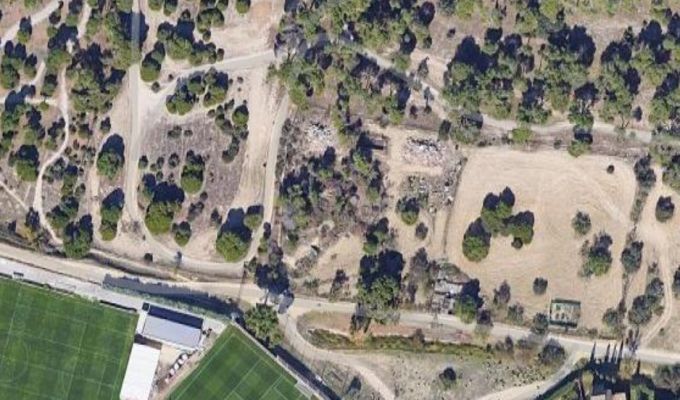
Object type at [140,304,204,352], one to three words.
building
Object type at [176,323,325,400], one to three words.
soccer field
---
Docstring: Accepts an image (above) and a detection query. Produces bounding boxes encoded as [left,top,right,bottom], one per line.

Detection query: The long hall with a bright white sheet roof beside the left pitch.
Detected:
[119,344,159,400]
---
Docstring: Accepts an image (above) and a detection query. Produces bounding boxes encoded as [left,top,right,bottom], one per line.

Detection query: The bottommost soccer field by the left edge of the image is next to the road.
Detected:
[0,281,137,400]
